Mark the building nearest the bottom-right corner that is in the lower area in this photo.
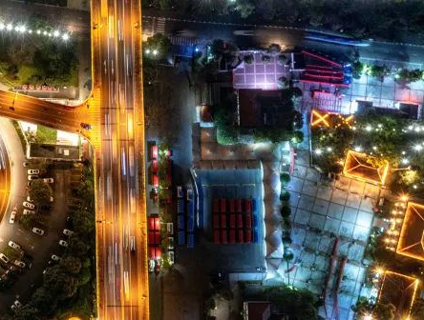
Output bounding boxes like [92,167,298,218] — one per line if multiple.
[366,271,420,320]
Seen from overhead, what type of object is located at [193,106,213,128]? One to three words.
shed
